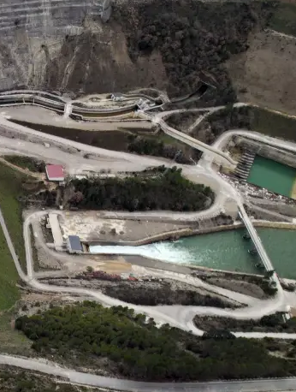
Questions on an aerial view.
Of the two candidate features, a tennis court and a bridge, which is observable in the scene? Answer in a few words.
bridge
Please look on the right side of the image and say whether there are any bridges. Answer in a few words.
Yes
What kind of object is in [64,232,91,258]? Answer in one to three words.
building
